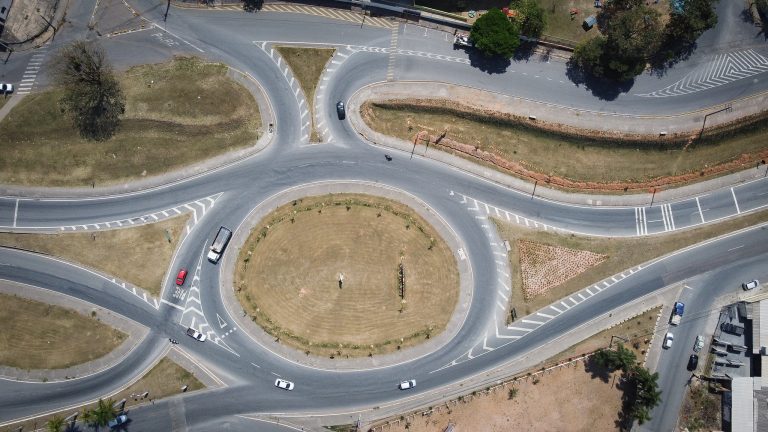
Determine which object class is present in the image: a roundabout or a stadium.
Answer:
roundabout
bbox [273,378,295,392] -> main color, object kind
white vehicle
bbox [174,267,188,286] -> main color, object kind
red vehicle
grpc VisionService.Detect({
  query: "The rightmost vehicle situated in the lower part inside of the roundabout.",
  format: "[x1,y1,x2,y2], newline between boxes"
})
[398,379,417,392]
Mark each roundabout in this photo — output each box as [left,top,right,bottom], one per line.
[183,146,508,410]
